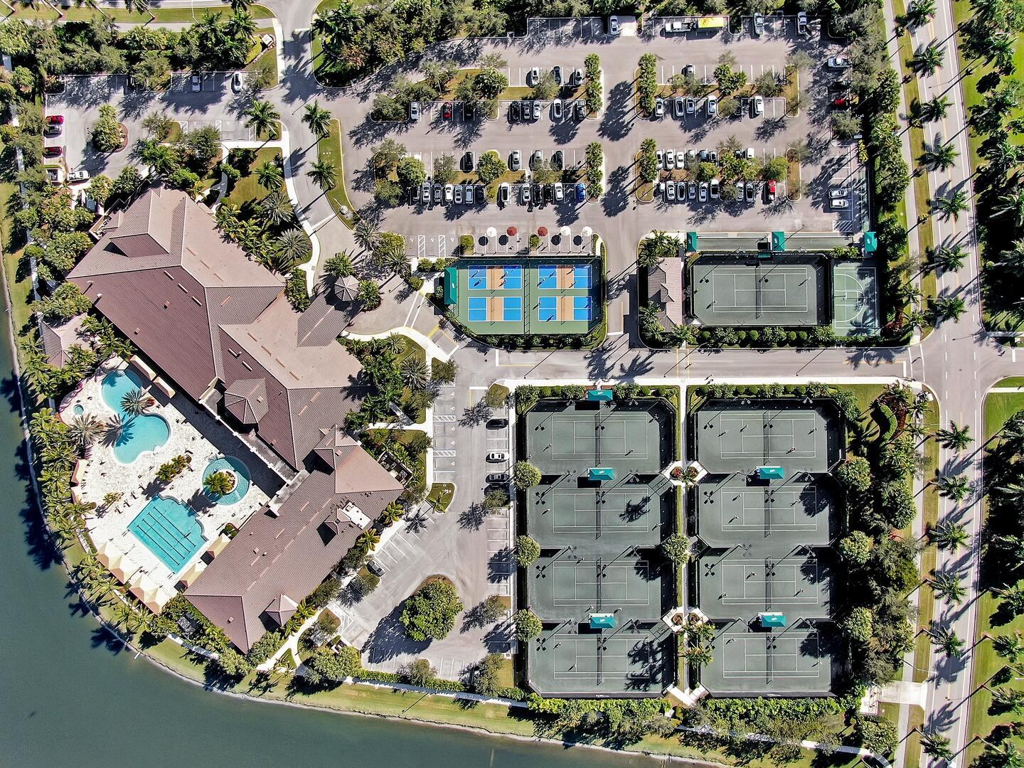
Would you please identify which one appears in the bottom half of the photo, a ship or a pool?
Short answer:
pool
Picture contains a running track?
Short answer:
No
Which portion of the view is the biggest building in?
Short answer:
left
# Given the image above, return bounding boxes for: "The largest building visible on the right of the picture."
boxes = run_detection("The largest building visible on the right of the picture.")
[648,257,682,325]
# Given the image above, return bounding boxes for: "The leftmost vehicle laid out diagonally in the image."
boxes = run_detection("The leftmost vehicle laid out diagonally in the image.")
[367,559,386,577]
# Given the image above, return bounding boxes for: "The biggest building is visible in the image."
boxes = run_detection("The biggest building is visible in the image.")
[65,181,404,655]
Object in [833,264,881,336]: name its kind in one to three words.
basketball court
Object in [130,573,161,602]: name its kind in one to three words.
tent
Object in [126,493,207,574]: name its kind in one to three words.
swimming pool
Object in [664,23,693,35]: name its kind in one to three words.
vehicle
